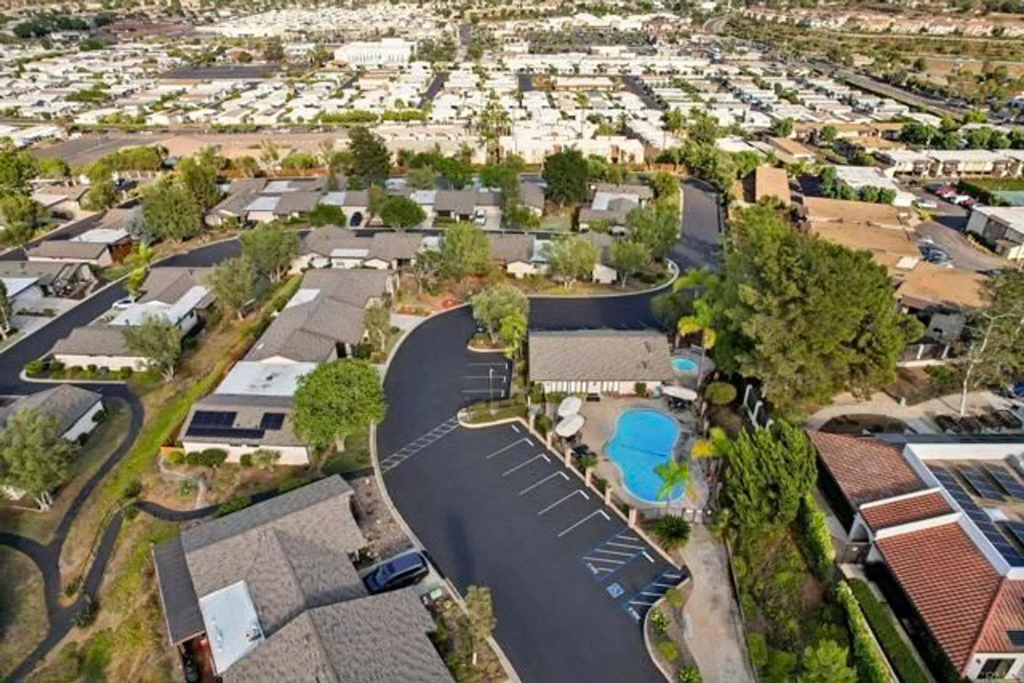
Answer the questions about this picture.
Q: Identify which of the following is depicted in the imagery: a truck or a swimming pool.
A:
swimming pool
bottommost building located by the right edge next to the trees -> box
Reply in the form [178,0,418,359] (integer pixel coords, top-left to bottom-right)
[813,404,1024,678]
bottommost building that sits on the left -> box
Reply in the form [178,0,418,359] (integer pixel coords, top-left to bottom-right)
[153,478,459,683]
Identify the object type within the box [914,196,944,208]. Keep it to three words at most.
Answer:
vehicle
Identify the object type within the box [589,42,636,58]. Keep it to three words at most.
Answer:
building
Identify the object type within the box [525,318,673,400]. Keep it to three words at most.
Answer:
building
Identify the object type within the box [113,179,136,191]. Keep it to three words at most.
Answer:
vehicle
